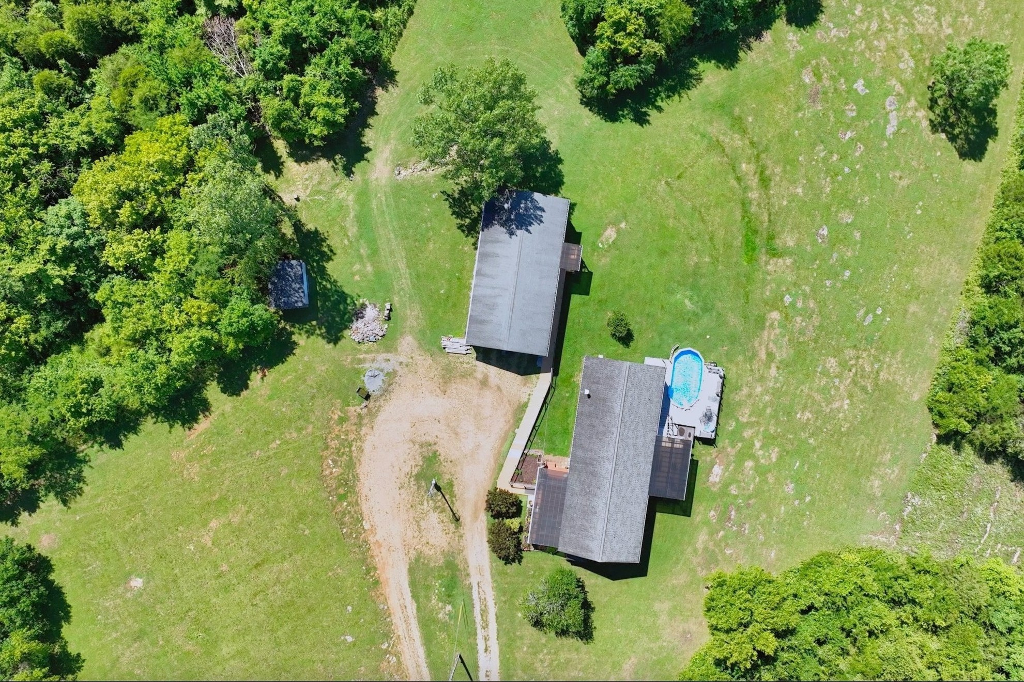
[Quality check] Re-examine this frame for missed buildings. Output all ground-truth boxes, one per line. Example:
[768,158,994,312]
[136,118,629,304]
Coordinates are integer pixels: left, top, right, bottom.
[527,356,693,563]
[273,260,313,309]
[464,189,583,356]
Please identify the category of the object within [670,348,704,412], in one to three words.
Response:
swimming pool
